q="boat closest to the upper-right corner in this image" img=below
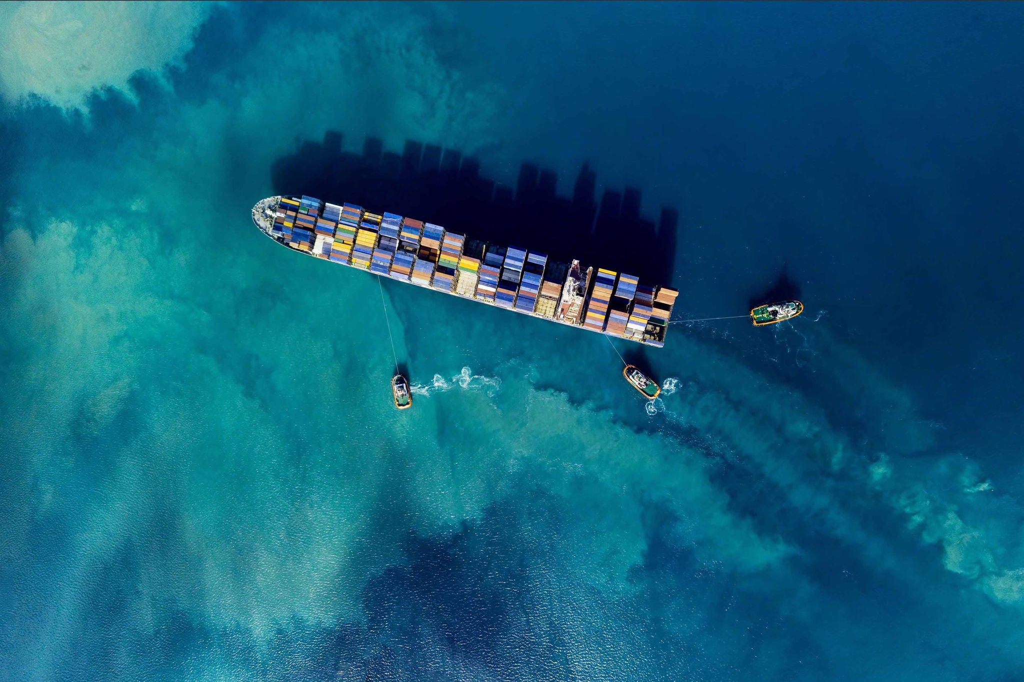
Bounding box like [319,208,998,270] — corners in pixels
[750,299,804,329]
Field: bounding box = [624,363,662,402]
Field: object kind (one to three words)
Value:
boat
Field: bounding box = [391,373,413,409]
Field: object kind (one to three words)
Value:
boat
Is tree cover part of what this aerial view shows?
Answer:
No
